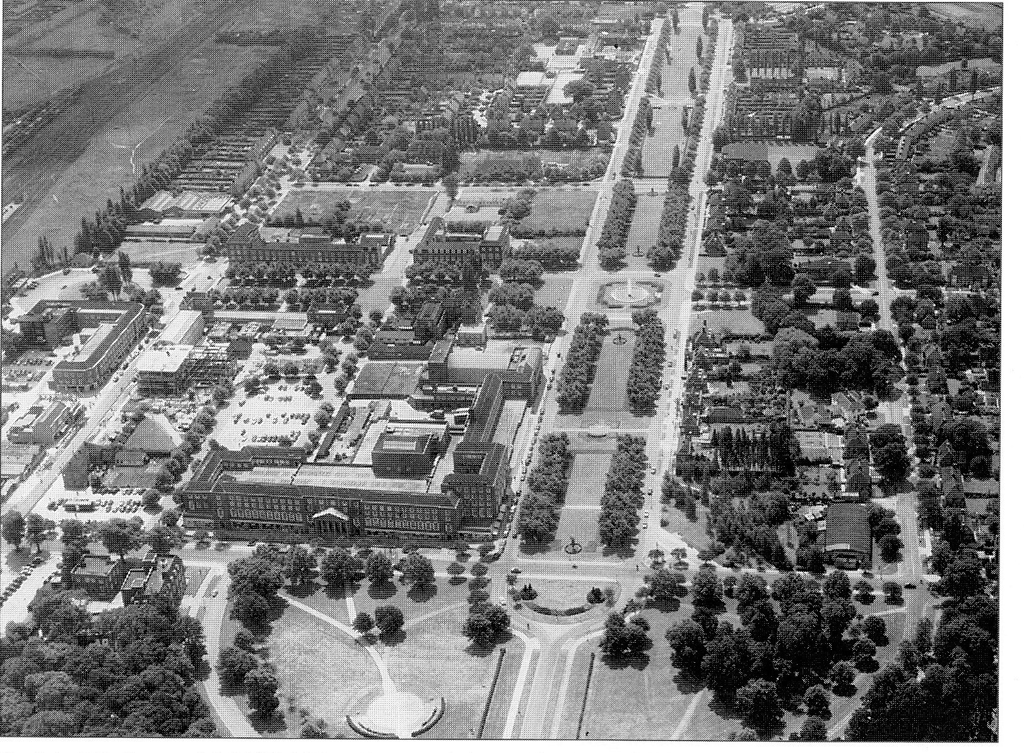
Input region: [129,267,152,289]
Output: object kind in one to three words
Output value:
shed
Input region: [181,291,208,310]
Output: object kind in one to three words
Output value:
building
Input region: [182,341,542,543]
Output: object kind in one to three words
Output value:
building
